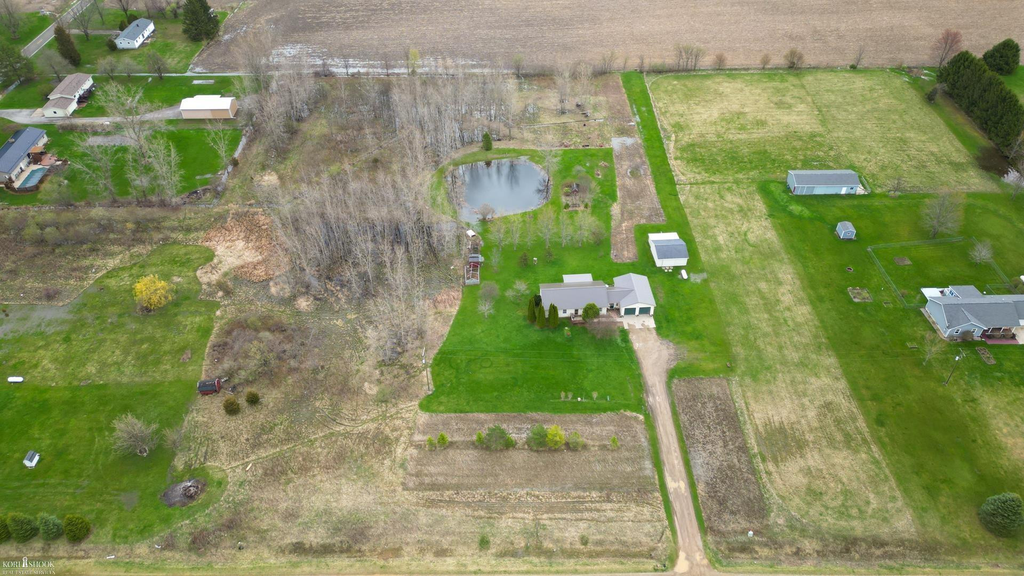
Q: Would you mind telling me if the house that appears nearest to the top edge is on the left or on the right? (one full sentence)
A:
The house that appears nearest to the top edge is on the left side of the image.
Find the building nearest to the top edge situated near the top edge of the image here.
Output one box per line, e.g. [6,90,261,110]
[116,17,156,49]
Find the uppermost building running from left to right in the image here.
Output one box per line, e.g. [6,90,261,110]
[179,94,238,119]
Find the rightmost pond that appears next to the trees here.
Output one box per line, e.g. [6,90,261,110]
[450,157,549,222]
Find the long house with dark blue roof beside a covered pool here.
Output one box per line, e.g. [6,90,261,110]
[0,126,51,182]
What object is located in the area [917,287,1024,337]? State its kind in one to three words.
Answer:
house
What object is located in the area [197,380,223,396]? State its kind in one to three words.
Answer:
shed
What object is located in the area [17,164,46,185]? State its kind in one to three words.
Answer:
swimming pool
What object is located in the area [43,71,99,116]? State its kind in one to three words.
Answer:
house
